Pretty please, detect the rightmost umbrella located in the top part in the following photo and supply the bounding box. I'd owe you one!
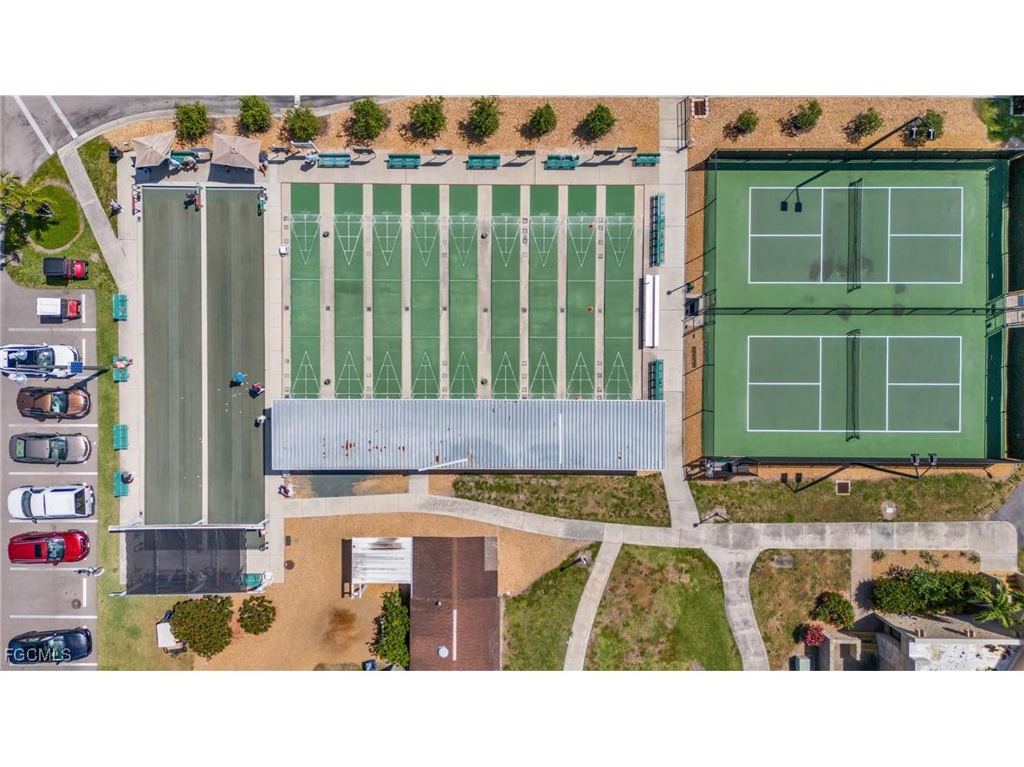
[212,135,261,170]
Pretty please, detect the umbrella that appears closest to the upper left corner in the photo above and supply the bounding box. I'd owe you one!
[132,130,176,167]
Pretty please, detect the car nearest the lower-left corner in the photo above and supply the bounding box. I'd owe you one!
[11,623,93,664]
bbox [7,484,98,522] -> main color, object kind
white truck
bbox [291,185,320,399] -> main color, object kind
green sports court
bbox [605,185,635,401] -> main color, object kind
green sports court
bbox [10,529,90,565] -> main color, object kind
red car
